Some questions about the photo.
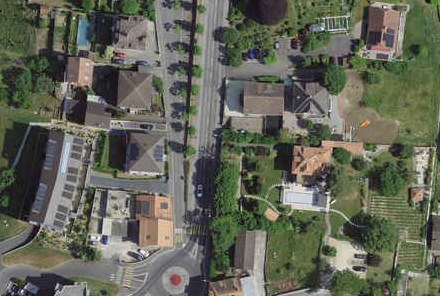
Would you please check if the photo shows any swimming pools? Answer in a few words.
Yes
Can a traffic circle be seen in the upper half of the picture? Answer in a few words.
No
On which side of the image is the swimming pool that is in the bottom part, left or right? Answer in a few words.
right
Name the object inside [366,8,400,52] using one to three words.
house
